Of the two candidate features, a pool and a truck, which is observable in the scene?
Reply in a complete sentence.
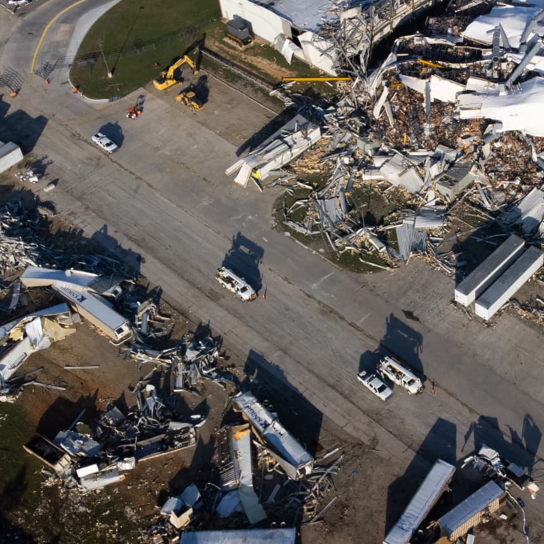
There is a truck in the scene.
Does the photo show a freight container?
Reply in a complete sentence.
Yes, this view includes a freight container.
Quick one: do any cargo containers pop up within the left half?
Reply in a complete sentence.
Yes, a cargo container shows up within the left half.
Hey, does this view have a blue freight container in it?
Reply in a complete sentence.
No, there's no blue freight container here.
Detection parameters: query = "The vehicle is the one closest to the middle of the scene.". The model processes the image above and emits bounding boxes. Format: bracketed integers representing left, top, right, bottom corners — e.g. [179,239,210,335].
[215,258,255,297]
